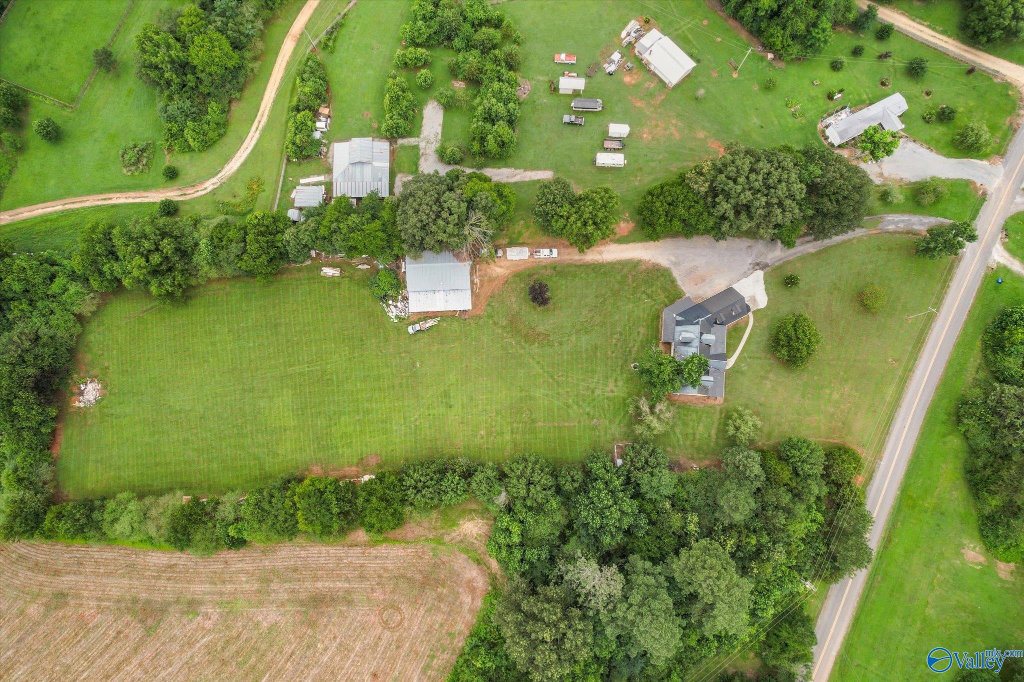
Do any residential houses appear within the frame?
Yes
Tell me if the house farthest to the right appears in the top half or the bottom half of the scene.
top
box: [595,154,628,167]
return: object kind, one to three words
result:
vehicle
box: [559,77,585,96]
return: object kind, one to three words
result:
shed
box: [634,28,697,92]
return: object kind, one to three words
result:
building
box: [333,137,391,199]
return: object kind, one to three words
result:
shed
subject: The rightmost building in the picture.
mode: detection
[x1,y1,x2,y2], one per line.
[824,93,908,149]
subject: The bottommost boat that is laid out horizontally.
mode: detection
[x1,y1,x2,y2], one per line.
[571,99,607,111]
